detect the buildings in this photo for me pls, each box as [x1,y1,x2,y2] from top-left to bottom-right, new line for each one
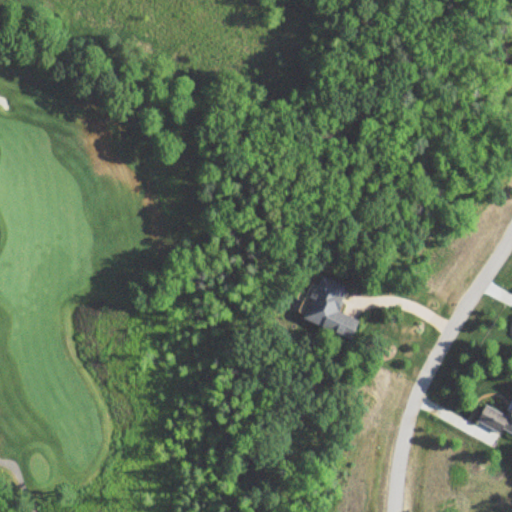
[304,281,362,336]
[478,405,512,442]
